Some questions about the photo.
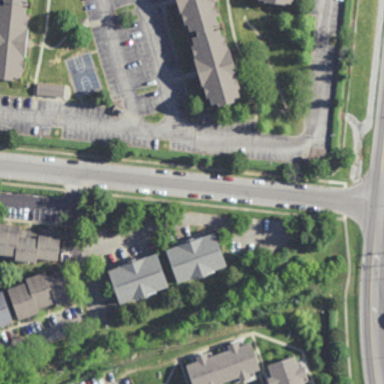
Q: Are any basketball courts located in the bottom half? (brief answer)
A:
No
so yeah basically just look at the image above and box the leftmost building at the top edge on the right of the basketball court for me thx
[177,0,240,110]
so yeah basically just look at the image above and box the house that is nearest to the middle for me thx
[168,235,225,282]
